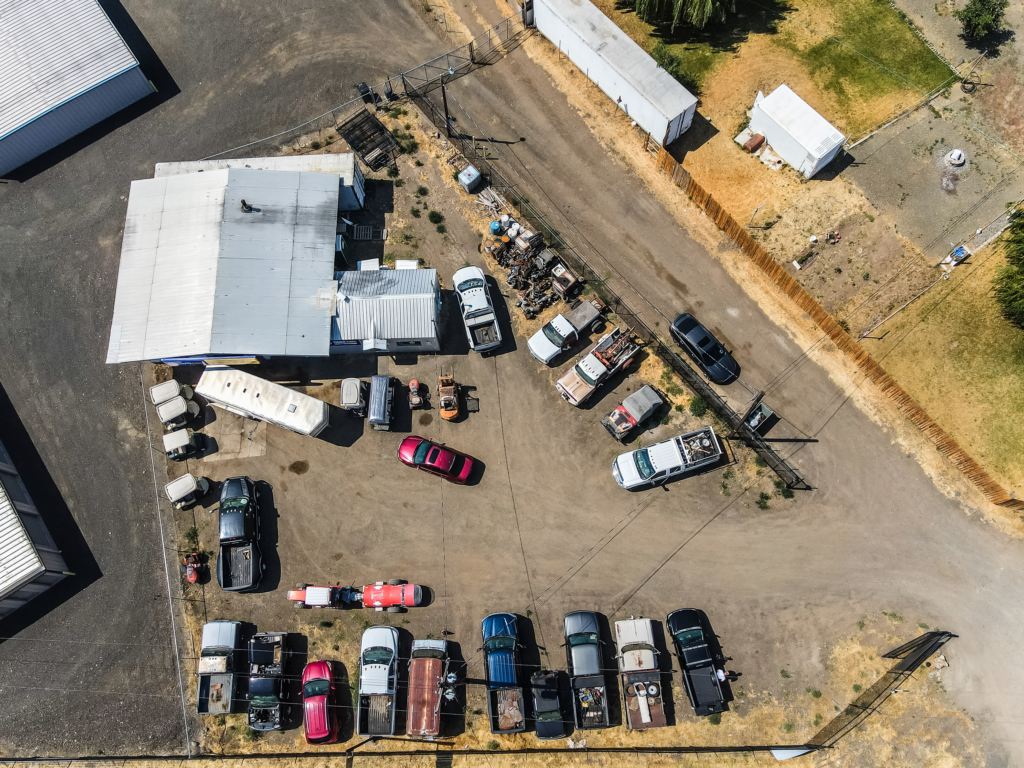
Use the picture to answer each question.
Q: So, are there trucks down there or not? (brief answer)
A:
Yes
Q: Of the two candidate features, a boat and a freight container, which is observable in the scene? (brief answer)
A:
freight container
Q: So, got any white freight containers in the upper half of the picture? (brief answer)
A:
Yes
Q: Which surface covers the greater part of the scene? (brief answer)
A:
paved ground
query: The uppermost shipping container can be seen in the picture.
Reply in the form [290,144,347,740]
[750,82,849,179]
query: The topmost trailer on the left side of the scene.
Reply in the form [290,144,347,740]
[330,100,398,169]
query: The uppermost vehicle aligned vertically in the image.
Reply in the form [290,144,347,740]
[453,264,501,359]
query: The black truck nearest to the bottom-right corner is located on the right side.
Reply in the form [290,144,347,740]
[666,605,728,719]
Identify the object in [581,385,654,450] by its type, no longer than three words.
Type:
car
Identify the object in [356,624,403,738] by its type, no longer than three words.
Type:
truck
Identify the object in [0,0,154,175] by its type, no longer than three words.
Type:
warehouse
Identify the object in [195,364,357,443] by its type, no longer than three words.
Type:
trailer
